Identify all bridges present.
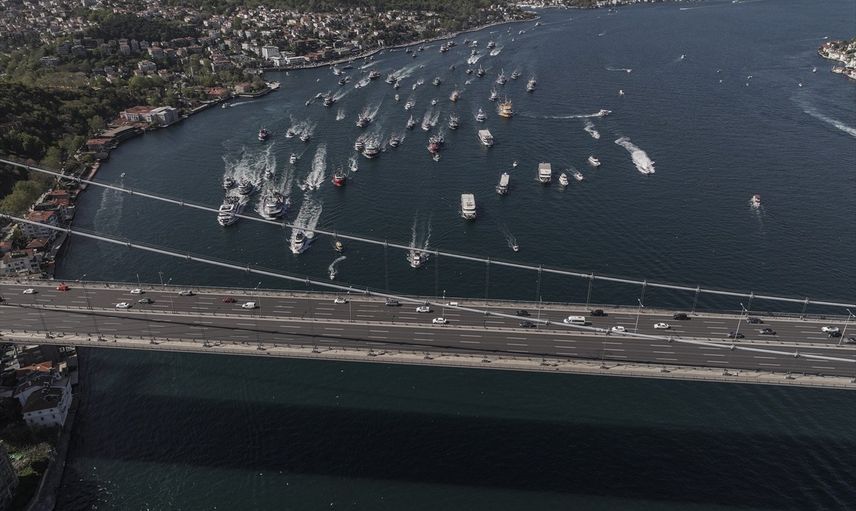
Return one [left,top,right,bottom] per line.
[0,159,856,390]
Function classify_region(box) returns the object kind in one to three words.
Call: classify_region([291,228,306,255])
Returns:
boat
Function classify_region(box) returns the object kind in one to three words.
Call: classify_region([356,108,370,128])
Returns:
boat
